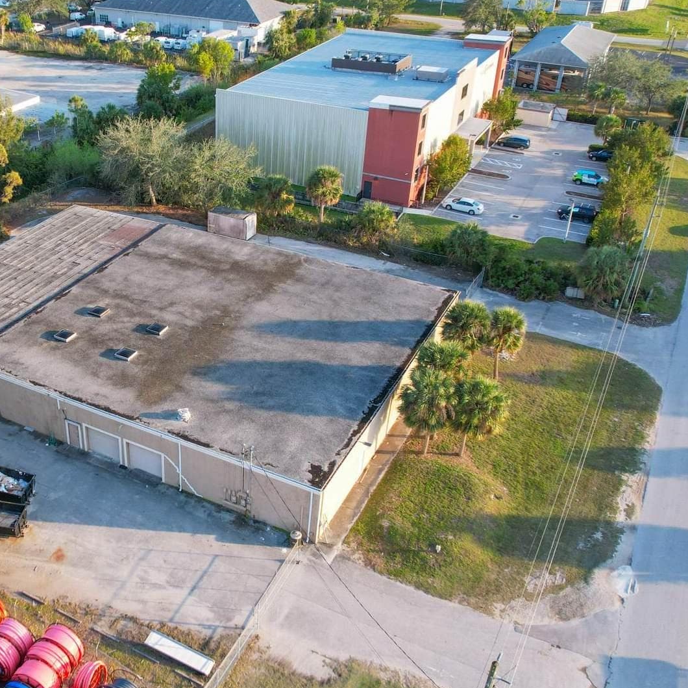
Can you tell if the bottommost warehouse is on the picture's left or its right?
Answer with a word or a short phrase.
left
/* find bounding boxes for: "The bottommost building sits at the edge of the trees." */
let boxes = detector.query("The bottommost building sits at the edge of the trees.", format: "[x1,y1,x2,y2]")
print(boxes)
[0,205,458,543]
